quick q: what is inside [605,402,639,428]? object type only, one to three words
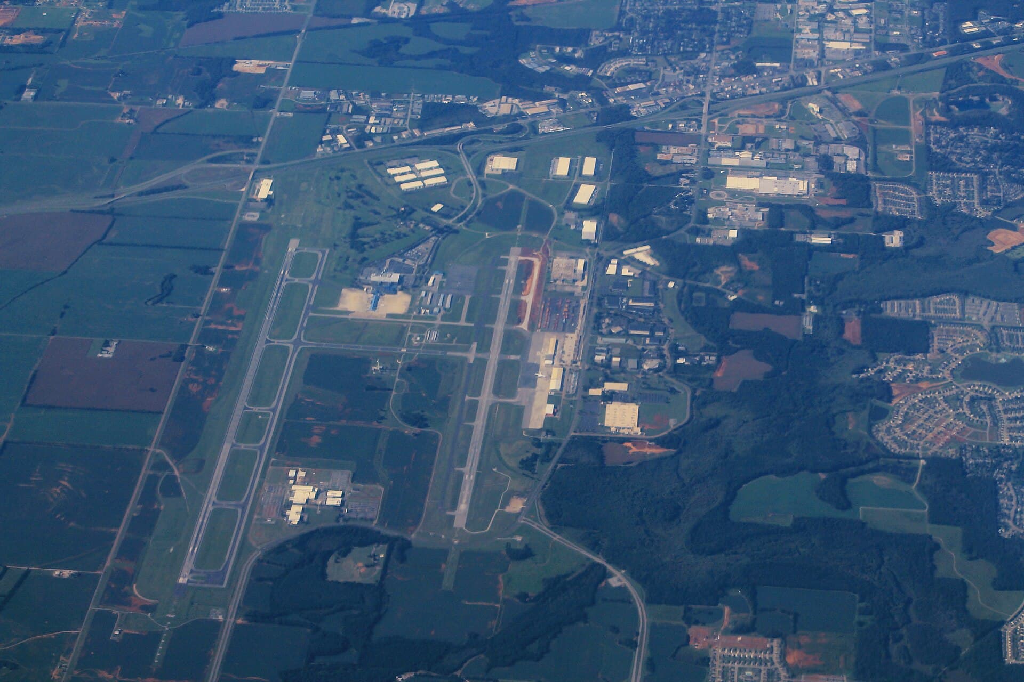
building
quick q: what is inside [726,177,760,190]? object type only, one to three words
building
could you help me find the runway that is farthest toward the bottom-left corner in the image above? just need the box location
[179,247,296,582]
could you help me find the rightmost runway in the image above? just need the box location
[453,249,519,532]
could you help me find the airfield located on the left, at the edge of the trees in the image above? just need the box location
[133,134,614,628]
